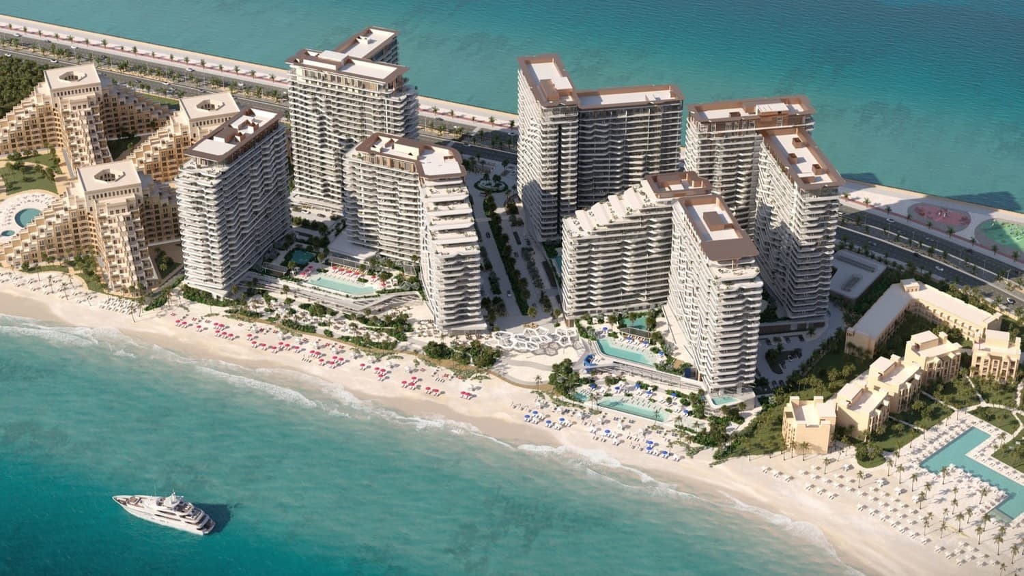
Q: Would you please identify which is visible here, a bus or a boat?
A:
boat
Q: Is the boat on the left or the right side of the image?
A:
left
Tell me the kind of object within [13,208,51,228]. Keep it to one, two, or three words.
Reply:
swimming pool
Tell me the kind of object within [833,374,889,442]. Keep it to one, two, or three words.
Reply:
house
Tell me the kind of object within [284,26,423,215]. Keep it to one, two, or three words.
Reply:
building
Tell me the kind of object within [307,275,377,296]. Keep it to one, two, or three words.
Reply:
swimming pool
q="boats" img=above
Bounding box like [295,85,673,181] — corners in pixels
[112,497,217,539]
